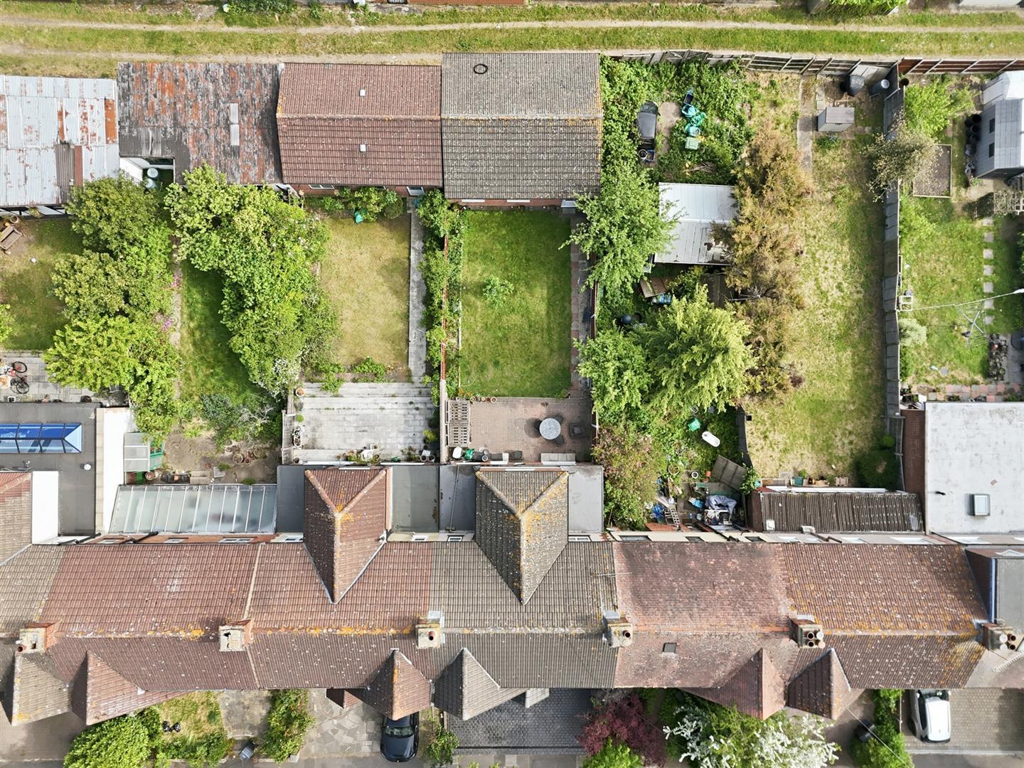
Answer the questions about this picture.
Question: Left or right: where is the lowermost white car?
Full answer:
The lowermost white car sits on the right side.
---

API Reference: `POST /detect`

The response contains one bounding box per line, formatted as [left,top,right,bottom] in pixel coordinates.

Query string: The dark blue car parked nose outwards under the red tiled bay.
[378,709,423,762]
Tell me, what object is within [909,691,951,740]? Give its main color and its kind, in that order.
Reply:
white car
